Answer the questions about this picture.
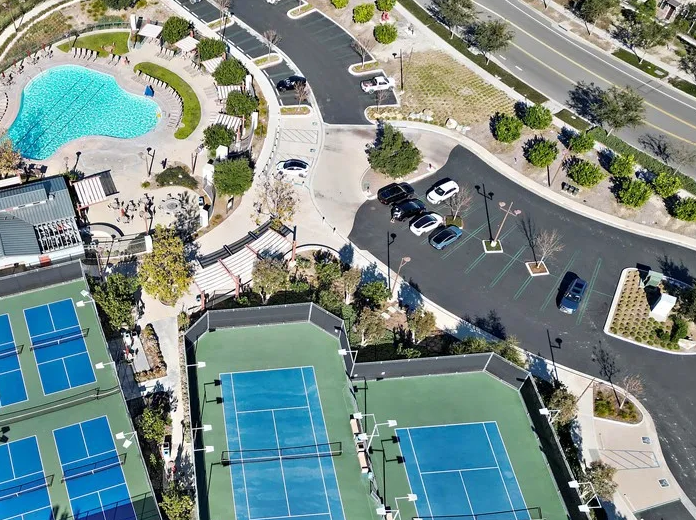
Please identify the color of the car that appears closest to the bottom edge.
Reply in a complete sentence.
The color of the car that appears closest to the bottom edge is blue.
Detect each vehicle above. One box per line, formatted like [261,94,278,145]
[429,225,464,247]
[393,198,428,220]
[561,278,590,311]
[428,179,459,202]
[410,213,445,233]
[362,74,397,92]
[379,182,415,205]
[277,75,308,92]
[277,161,311,177]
